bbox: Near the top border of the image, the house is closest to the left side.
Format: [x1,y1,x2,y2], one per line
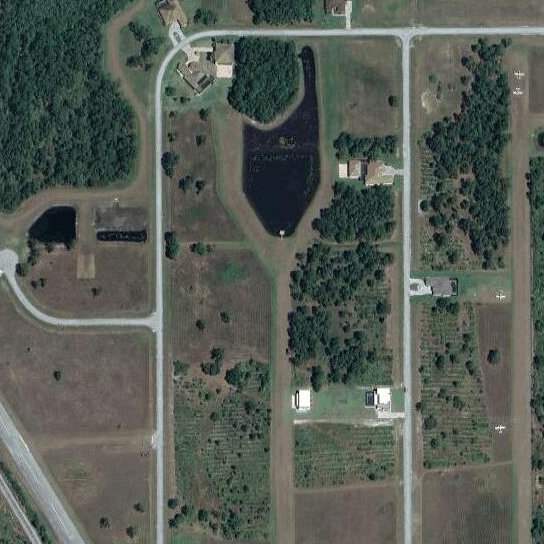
[161,0,187,21]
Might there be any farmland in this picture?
Yes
